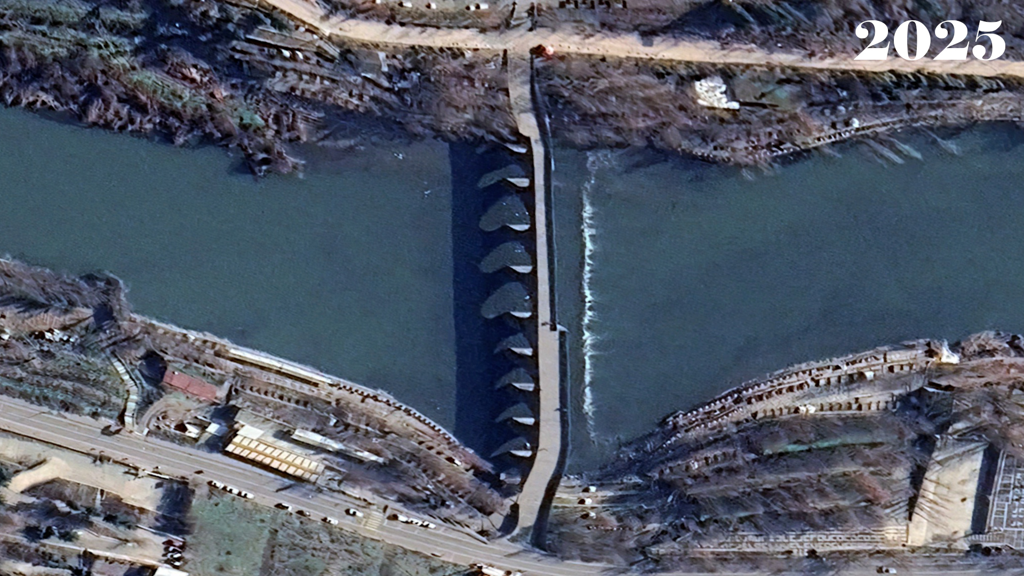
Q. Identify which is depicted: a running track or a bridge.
bridge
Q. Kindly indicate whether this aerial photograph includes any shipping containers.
No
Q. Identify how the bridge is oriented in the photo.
up and down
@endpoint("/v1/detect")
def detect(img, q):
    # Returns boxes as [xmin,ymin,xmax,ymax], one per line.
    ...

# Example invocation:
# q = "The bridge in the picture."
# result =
[506,52,571,540]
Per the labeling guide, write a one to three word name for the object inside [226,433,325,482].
building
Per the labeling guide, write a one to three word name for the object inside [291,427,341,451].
shed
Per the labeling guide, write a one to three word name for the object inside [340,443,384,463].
shed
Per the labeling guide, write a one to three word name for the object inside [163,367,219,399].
house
